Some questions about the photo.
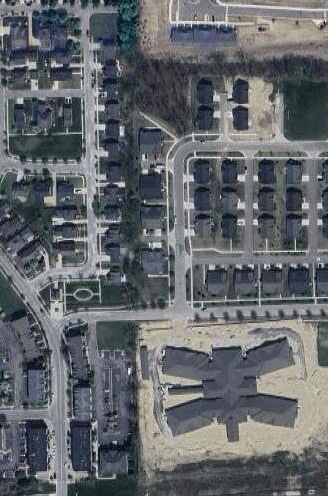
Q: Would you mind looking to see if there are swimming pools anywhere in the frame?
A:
No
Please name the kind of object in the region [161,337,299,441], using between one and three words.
house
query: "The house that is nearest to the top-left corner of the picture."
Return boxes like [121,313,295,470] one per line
[9,24,27,50]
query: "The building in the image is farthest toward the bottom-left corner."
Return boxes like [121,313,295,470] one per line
[25,427,47,472]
